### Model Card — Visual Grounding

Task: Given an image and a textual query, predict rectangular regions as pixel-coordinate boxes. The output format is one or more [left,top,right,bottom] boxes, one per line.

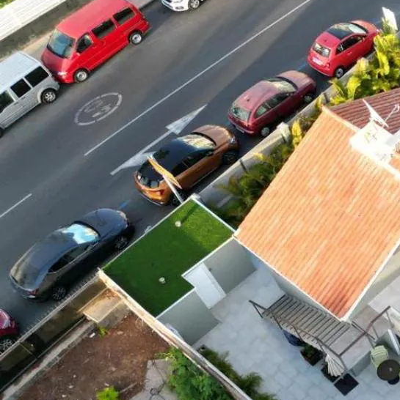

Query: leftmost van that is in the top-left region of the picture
[0,46,60,125]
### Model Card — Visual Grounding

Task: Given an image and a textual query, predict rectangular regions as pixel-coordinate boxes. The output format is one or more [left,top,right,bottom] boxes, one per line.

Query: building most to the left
[102,201,254,348]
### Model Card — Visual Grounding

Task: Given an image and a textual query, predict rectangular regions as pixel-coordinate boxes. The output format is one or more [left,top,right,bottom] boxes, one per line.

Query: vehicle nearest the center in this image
[131,120,236,203]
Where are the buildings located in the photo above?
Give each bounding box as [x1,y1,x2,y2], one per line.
[102,201,254,348]
[234,80,400,381]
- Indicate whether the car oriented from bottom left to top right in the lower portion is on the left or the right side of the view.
left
